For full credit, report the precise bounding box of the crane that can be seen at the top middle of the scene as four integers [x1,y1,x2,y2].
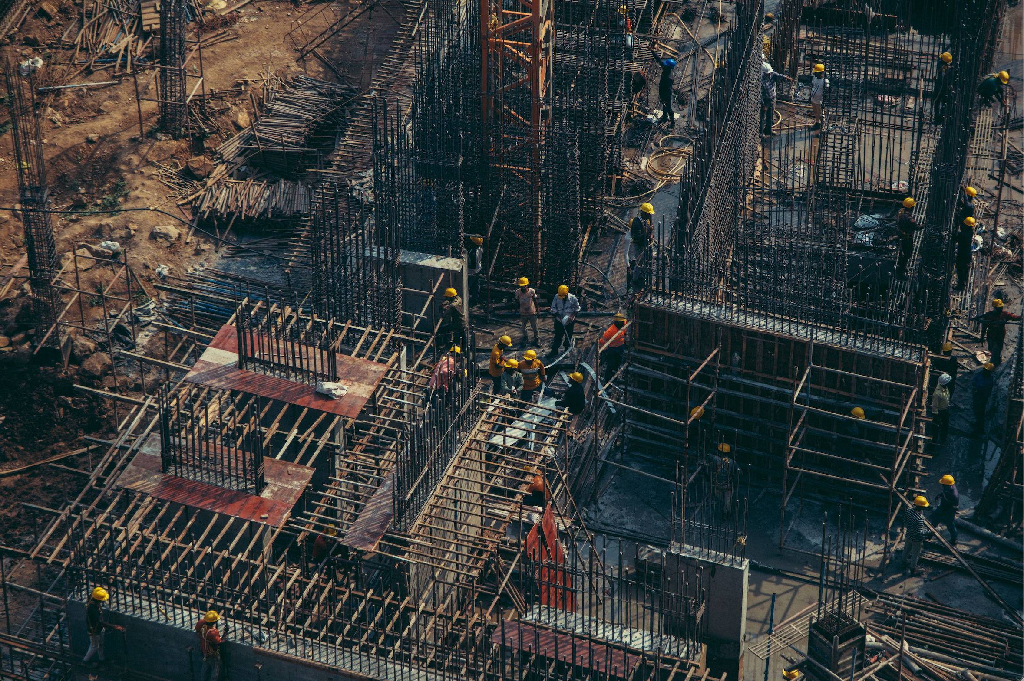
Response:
[482,0,561,264]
